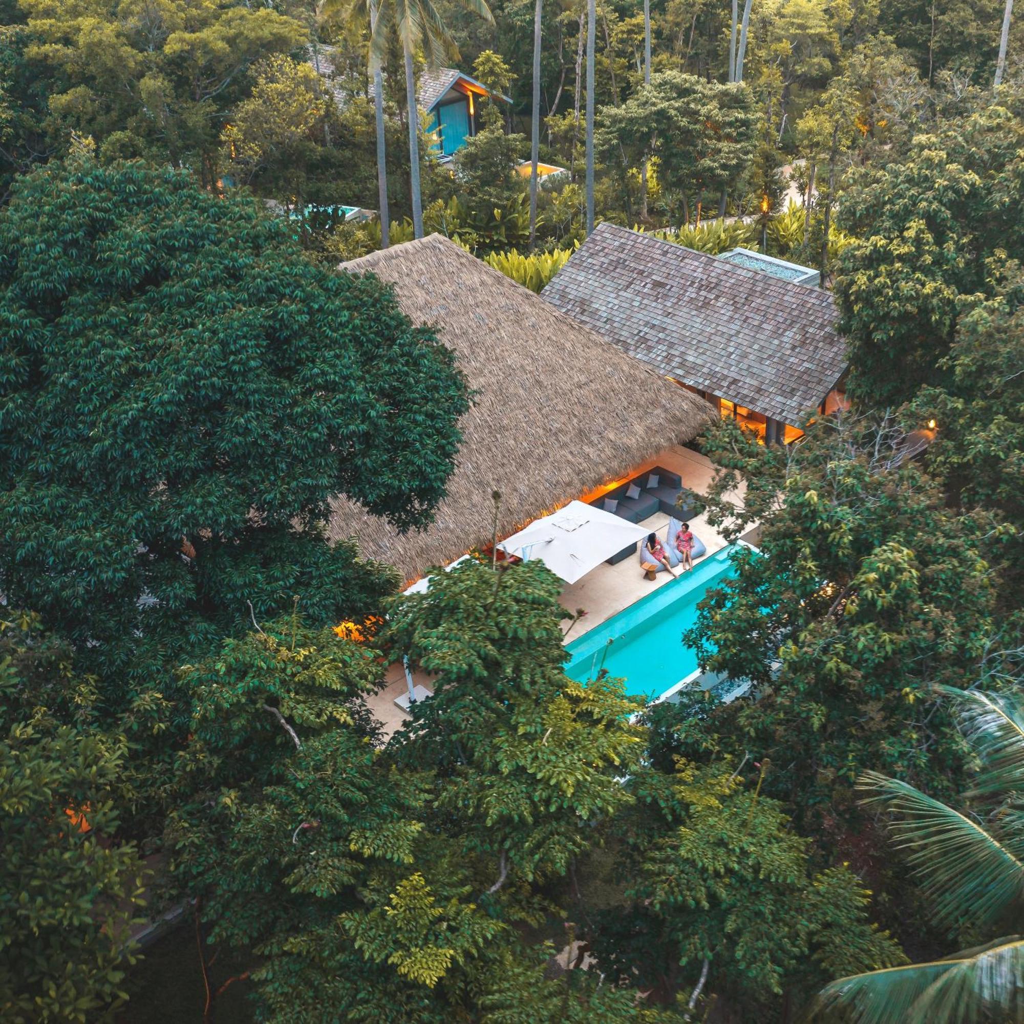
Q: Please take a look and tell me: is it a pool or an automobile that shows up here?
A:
pool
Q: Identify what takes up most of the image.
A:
trees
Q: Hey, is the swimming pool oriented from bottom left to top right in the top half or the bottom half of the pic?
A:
bottom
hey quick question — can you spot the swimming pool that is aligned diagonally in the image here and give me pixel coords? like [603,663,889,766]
[441,552,843,865]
